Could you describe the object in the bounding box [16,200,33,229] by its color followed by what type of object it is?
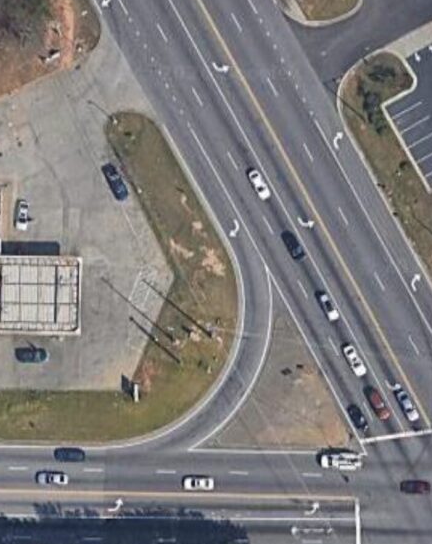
white car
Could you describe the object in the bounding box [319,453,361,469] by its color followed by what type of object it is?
white vehicle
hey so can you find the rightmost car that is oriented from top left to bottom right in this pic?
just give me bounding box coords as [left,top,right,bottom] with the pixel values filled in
[393,388,418,421]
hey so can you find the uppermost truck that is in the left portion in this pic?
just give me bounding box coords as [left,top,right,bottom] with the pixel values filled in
[102,164,127,200]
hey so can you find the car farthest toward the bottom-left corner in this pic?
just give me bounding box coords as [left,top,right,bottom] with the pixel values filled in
[37,472,68,485]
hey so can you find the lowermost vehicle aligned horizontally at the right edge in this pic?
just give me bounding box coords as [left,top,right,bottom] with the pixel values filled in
[400,480,430,494]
